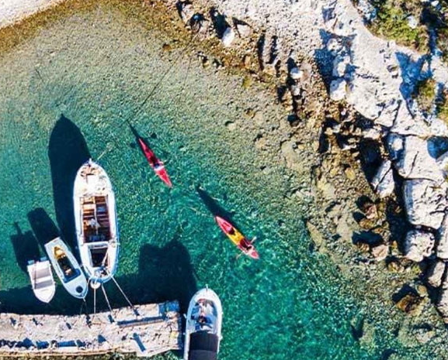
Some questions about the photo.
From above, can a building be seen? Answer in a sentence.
No, I can see no building in this picture.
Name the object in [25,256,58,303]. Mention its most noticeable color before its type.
white boat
